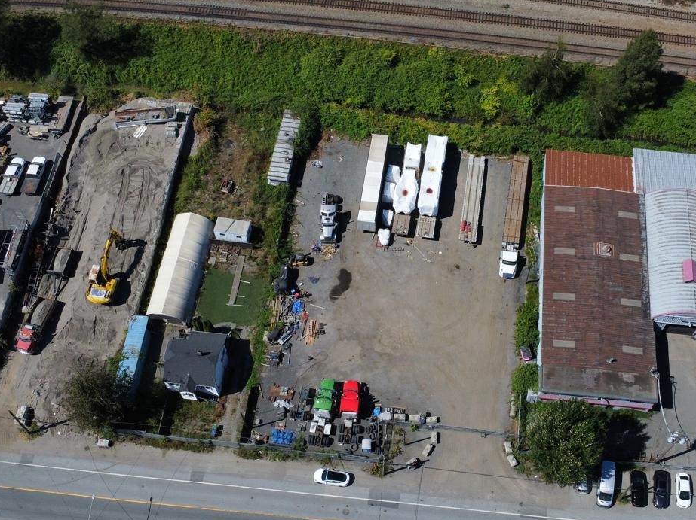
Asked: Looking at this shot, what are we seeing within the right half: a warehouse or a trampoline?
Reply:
warehouse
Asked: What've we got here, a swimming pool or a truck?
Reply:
truck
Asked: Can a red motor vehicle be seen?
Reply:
Yes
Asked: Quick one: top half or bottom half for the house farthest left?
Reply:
bottom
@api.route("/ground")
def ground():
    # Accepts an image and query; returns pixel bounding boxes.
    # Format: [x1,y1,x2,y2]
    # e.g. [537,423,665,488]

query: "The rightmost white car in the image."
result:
[674,472,694,512]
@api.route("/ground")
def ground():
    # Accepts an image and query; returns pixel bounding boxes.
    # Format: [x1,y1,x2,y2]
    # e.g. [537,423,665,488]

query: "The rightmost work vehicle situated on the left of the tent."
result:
[84,229,124,307]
